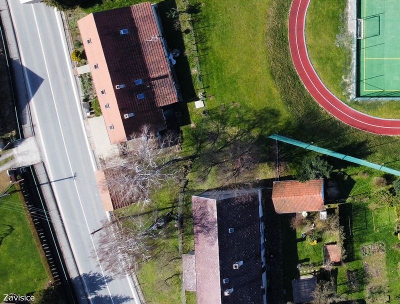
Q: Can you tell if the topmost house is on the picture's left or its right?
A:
left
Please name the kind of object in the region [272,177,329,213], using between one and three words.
shed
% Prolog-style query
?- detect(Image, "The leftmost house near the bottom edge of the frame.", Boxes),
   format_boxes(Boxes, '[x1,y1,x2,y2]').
[182,187,268,304]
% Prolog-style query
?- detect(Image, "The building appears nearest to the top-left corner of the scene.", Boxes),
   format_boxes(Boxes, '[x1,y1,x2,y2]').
[80,1,184,144]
